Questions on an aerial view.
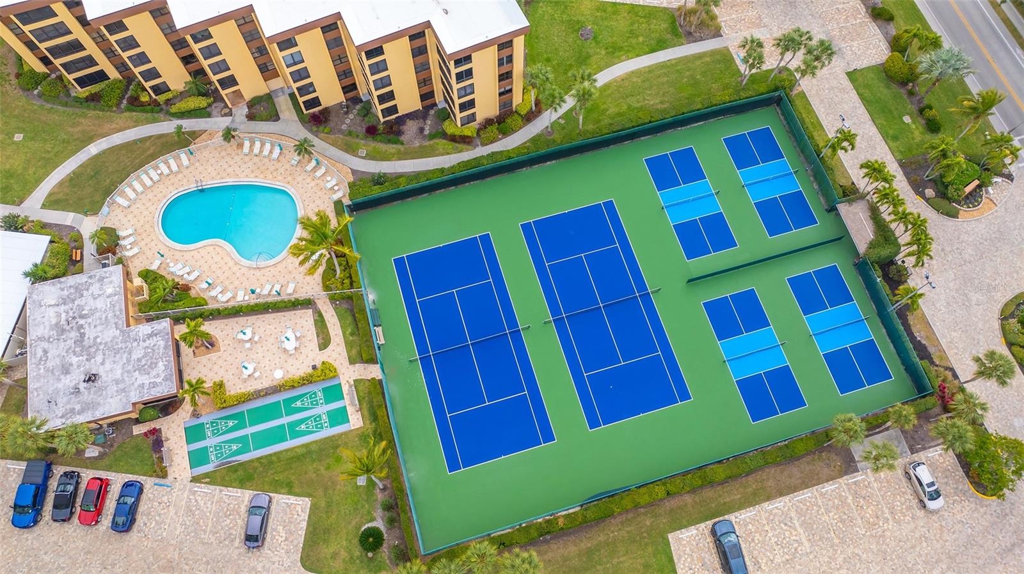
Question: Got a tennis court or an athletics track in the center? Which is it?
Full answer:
You can see a tennis court in the center.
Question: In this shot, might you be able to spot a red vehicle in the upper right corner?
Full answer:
No, no red vehicle can be made out in the upper right corner.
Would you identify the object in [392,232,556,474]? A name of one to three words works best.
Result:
tennis court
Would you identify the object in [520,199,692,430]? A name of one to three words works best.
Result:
tennis court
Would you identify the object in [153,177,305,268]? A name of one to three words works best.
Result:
swimming pool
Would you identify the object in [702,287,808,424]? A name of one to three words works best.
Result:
sports court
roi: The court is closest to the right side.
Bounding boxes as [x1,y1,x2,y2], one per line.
[785,263,895,396]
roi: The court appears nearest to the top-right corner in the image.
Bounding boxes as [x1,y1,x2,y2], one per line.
[722,125,819,238]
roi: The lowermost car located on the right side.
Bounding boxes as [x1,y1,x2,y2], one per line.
[715,520,751,574]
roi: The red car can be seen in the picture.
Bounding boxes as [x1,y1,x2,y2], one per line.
[79,477,112,527]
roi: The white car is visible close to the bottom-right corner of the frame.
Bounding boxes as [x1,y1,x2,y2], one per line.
[907,459,945,513]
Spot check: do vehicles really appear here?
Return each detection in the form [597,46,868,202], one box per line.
[79,477,112,527]
[13,461,56,527]
[907,459,945,513]
[243,493,272,549]
[715,520,751,574]
[109,479,147,534]
[50,471,83,523]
